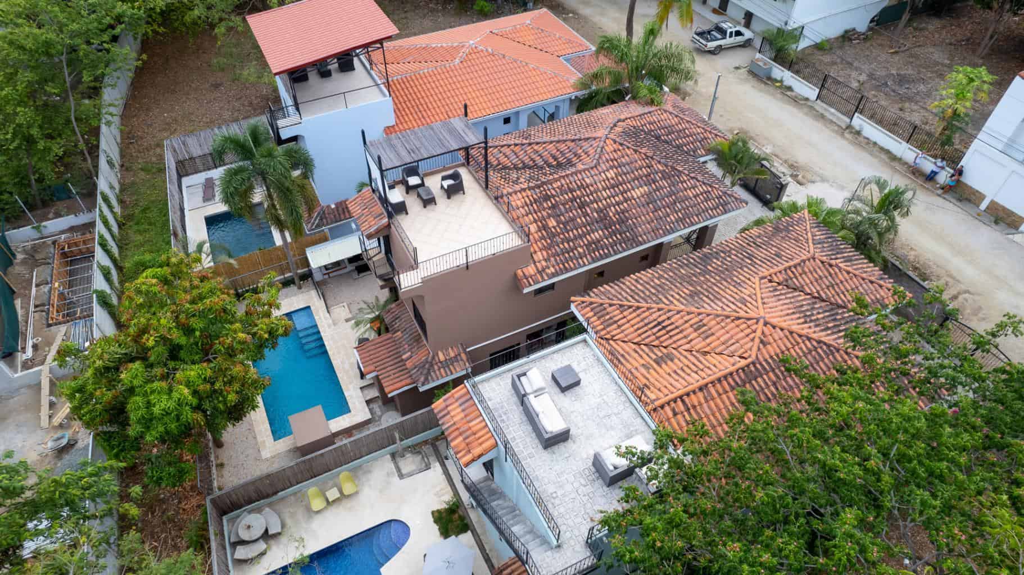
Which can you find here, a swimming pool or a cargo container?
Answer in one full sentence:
It is a swimming pool that can be seen here.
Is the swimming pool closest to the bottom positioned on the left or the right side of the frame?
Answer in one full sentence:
You can find the swimming pool closest to the bottom on the left side of the picture.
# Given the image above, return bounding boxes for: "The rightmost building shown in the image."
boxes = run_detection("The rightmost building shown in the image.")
[949,77,1024,234]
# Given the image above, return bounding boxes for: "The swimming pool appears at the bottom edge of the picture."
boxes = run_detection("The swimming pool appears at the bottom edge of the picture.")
[267,516,410,575]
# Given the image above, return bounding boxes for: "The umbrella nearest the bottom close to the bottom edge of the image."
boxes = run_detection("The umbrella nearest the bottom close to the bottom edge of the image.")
[422,534,480,575]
